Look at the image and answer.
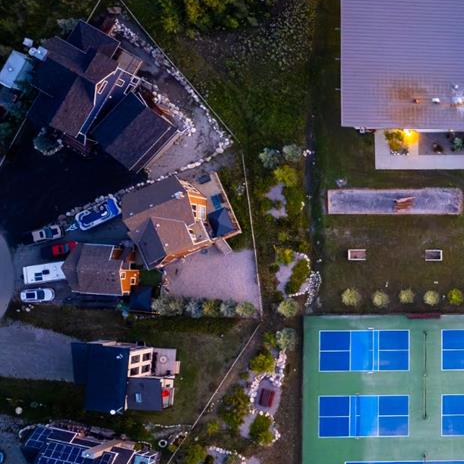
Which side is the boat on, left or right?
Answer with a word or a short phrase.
left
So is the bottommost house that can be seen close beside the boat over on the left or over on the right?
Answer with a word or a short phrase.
left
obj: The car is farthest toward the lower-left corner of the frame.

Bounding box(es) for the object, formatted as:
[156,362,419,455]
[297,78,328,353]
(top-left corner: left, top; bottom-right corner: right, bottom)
[22,286,59,302]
